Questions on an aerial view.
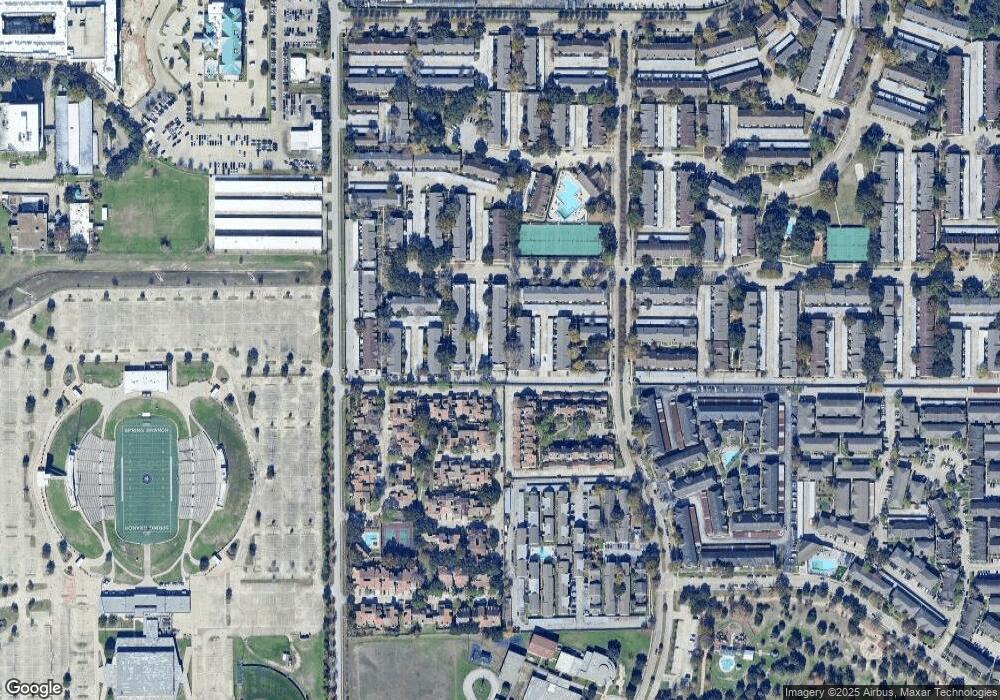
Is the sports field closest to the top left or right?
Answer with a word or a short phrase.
left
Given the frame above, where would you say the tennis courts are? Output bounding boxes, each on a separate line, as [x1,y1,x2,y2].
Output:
[519,224,602,256]
[826,226,868,262]
[382,523,413,557]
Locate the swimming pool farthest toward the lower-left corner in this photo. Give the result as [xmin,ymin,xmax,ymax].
[363,531,379,549]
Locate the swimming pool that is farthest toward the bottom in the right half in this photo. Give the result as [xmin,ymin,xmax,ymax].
[719,656,735,672]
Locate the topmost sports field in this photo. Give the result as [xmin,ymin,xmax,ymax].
[115,417,179,545]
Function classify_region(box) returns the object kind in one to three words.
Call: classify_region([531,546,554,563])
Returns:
swimming pool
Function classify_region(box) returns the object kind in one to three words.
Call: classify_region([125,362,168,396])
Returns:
house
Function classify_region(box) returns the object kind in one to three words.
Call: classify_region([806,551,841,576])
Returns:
swimming pool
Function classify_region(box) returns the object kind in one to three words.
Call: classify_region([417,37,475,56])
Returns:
building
